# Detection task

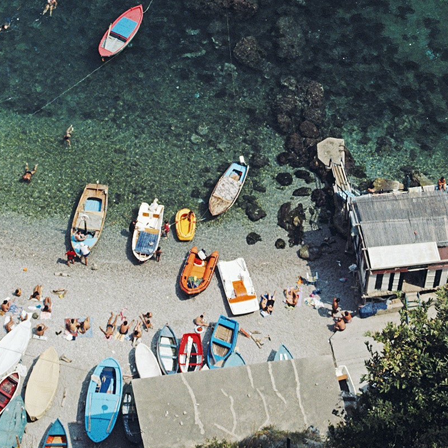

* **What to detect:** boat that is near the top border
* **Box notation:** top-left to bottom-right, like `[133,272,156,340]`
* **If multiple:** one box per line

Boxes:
[100,7,143,67]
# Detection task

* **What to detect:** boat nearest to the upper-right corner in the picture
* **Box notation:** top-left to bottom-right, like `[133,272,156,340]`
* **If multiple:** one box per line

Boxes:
[209,151,246,214]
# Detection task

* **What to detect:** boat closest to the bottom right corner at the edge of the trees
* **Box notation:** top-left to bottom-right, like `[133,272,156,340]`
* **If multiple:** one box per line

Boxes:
[336,367,355,413]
